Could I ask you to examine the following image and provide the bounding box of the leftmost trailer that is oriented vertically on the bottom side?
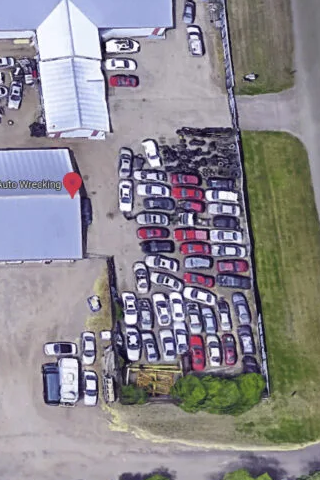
[40,362,63,407]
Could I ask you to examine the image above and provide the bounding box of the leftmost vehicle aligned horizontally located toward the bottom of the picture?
[44,341,76,356]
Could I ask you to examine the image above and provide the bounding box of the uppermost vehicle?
[181,0,197,24]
